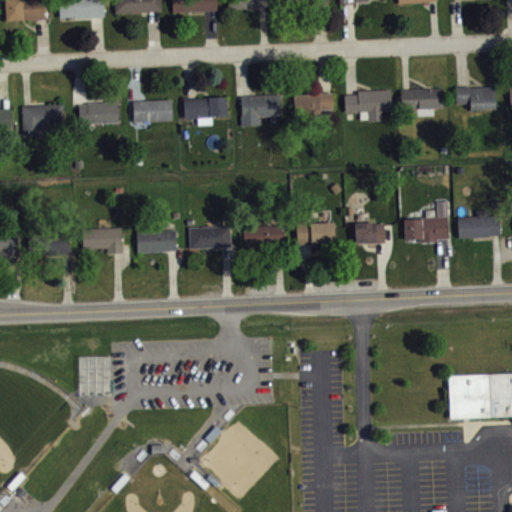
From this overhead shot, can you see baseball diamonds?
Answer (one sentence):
Yes, the frame does contain a baseball diamond.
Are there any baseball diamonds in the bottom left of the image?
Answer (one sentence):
Yes, in the bottom left of the image there is a baseball diamond.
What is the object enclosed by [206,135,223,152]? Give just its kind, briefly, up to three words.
swimming pool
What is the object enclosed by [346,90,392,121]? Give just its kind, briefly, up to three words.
house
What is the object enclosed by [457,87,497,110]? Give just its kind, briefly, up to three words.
house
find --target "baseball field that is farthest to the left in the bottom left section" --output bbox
[0,366,74,490]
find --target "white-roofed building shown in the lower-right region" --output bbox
[448,375,512,422]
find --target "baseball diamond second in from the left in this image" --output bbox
[102,456,230,512]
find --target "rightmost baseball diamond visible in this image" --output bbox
[200,404,290,512]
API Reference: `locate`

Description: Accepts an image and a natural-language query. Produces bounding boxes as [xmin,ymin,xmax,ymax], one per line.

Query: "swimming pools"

[456,206,467,217]
[206,135,223,152]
